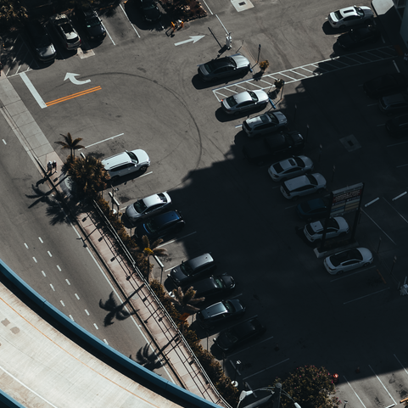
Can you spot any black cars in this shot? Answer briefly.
Yes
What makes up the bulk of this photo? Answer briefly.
paved ground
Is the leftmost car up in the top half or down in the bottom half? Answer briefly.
top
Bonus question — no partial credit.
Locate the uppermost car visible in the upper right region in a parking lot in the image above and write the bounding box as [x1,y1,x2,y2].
[325,3,376,32]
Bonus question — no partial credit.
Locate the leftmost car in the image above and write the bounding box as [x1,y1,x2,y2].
[21,23,58,65]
